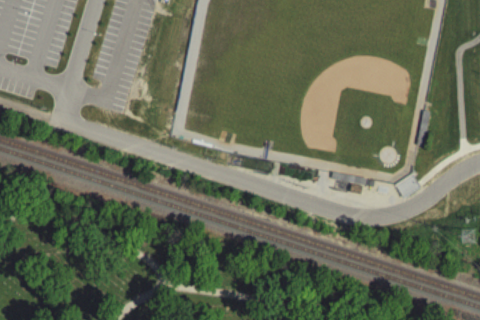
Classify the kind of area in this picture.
sports ground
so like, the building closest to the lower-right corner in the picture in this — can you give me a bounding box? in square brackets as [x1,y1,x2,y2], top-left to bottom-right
[394,170,421,196]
